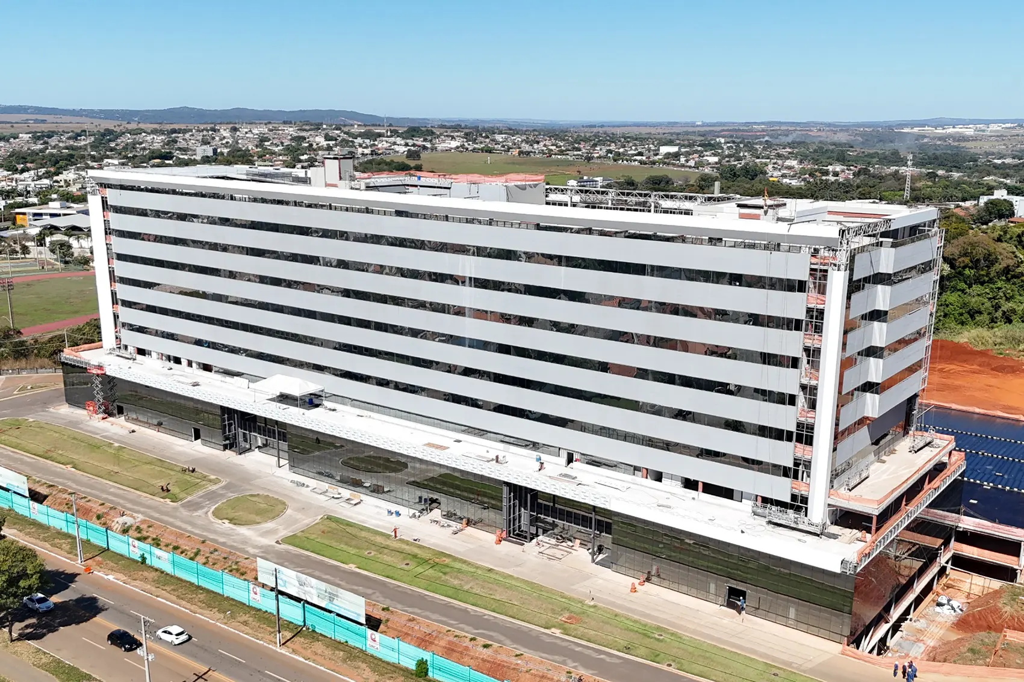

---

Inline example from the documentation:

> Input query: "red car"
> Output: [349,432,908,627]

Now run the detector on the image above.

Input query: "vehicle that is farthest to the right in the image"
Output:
[157,622,192,644]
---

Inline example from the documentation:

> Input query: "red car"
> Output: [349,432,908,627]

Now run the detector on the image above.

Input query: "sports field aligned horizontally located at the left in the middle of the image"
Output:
[0,276,121,338]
